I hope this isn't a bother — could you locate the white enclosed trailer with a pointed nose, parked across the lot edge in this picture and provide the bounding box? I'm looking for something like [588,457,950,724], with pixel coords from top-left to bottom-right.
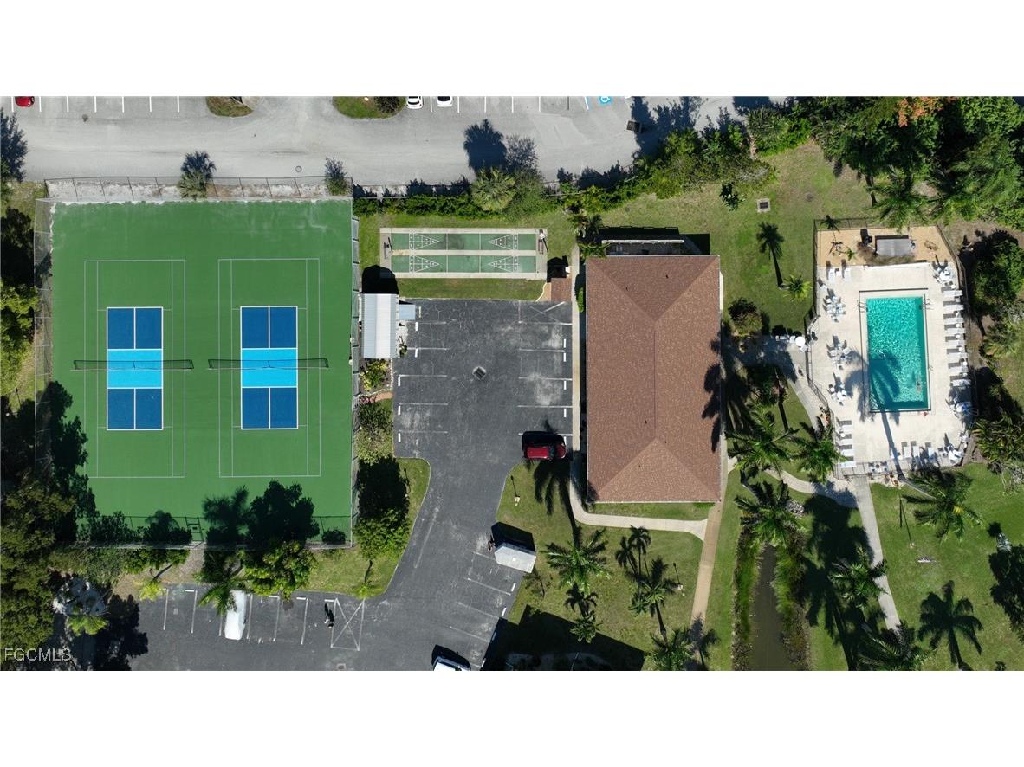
[489,541,537,573]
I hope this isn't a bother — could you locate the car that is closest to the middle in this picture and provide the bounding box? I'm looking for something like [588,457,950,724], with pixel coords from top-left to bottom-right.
[525,440,566,460]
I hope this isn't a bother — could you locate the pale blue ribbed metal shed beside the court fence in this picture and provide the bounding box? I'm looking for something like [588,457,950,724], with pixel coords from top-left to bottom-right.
[364,292,401,360]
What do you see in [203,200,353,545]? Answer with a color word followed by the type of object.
green tennis court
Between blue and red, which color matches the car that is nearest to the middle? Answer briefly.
red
